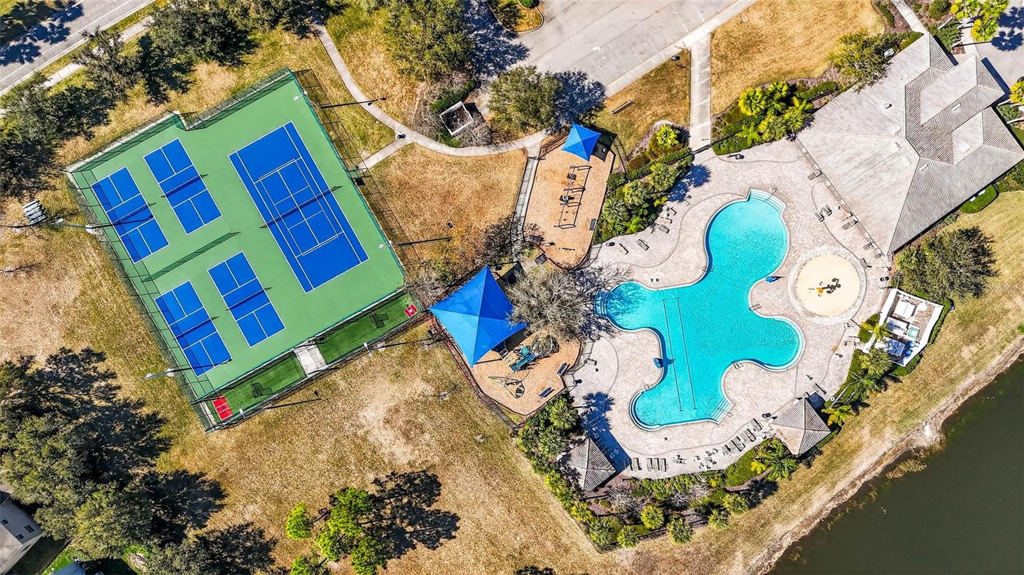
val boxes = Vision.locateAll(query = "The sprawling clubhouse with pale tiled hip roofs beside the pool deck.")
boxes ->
[795,31,1024,257]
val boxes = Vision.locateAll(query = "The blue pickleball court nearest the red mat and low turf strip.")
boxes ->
[155,280,231,377]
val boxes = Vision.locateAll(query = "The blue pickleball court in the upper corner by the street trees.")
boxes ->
[91,167,168,263]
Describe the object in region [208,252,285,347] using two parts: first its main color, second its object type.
blue sports court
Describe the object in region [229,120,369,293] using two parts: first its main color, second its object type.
blue tennis court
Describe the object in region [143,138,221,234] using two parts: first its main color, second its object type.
blue sports court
